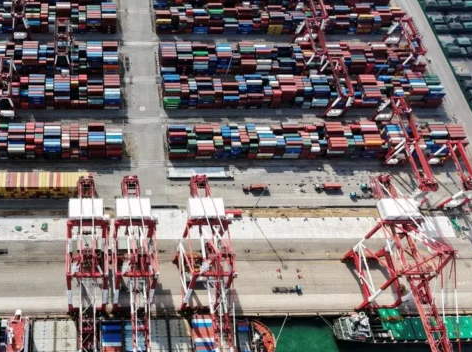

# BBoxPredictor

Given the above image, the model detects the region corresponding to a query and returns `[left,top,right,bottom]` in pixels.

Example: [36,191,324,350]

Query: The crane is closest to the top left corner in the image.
[11,0,34,41]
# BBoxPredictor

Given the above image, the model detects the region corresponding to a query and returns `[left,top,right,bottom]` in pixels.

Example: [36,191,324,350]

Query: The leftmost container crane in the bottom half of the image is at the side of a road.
[65,170,112,352]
